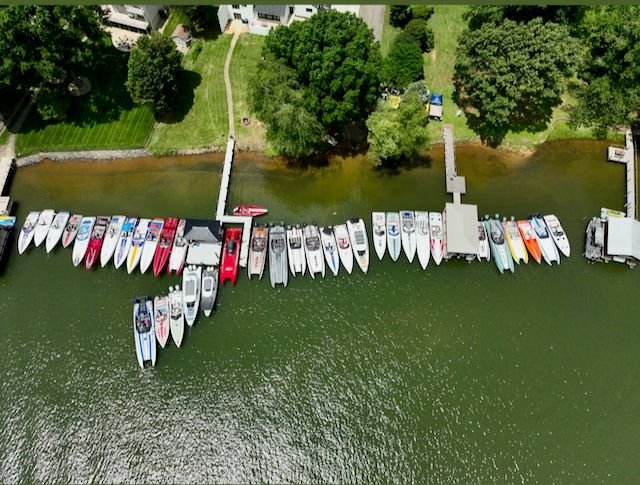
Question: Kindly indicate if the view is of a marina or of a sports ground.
marina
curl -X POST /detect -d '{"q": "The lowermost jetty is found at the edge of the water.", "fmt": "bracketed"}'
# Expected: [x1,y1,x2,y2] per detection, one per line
[186,240,222,268]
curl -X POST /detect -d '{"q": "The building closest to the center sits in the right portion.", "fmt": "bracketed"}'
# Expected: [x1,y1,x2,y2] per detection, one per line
[441,205,479,264]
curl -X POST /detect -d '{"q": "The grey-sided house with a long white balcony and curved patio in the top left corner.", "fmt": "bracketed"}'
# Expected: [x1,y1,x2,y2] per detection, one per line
[97,0,181,34]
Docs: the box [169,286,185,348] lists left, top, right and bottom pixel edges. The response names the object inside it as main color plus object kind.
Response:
white boat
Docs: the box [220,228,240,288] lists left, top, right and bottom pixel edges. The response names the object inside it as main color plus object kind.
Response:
red boat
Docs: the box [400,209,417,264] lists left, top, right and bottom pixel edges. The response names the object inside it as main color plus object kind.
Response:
white boat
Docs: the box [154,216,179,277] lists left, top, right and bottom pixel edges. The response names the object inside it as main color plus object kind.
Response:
red boat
